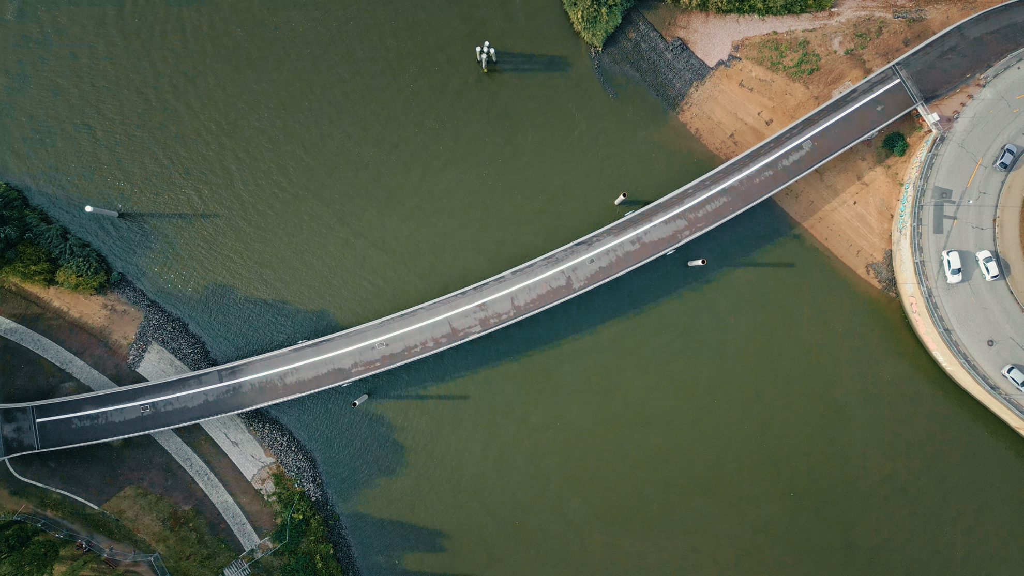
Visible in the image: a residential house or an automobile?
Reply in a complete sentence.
Visible in the photo is an automobile.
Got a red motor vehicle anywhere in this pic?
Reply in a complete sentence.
No, no red motor vehicle is visible in the view.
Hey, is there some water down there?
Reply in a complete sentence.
Yes, there is water in the image.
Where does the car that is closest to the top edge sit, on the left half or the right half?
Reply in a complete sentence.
The car that is closest to the top edge appears in the right half of the scene.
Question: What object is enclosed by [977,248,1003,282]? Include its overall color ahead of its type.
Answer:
white car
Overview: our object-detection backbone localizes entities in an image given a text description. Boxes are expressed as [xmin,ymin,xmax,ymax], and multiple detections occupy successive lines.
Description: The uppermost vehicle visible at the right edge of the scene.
[994,139,1021,174]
